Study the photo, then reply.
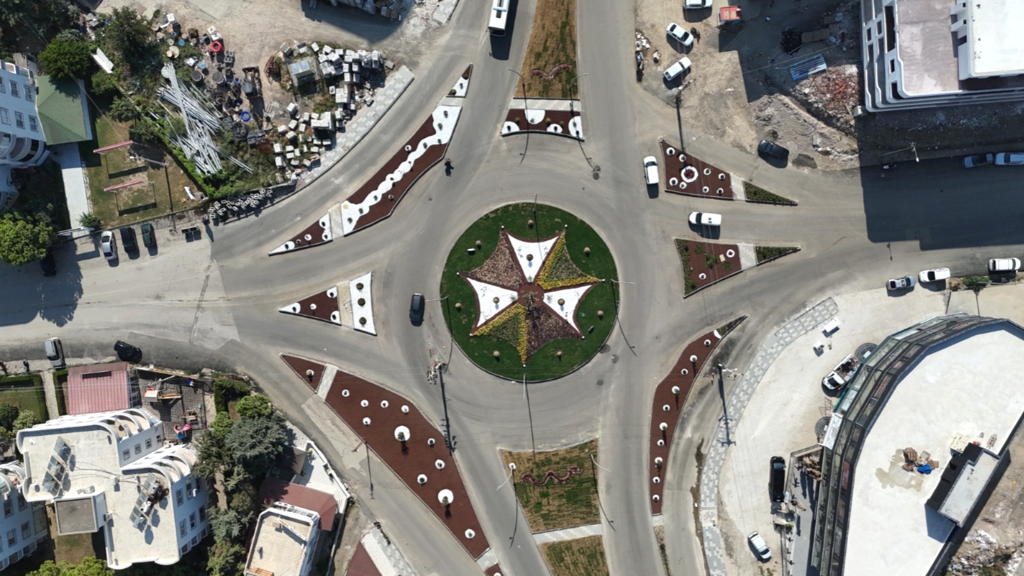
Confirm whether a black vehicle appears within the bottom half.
Yes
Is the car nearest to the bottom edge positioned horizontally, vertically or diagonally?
diagonally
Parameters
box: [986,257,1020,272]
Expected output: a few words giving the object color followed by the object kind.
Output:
white car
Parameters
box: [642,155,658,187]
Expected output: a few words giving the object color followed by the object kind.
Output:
white vehicle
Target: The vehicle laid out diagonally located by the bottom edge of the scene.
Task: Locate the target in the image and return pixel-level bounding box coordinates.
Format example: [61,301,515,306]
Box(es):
[746,532,771,561]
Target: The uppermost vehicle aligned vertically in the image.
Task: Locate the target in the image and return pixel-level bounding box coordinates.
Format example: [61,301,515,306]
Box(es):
[484,0,509,40]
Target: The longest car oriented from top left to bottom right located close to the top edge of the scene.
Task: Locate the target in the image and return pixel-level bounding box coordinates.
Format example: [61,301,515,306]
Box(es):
[663,22,695,49]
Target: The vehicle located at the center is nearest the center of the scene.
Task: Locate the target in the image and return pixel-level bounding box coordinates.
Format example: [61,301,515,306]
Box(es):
[409,292,425,325]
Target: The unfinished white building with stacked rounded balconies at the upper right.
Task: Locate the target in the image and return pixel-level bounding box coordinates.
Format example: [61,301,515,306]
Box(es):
[856,0,1024,116]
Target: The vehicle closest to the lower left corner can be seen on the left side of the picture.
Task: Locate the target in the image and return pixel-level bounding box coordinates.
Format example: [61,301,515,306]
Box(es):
[45,334,67,367]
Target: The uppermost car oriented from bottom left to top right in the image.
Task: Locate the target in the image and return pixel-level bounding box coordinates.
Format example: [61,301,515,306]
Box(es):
[661,57,692,82]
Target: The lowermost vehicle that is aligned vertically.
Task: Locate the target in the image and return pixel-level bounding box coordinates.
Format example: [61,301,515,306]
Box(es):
[769,457,787,502]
